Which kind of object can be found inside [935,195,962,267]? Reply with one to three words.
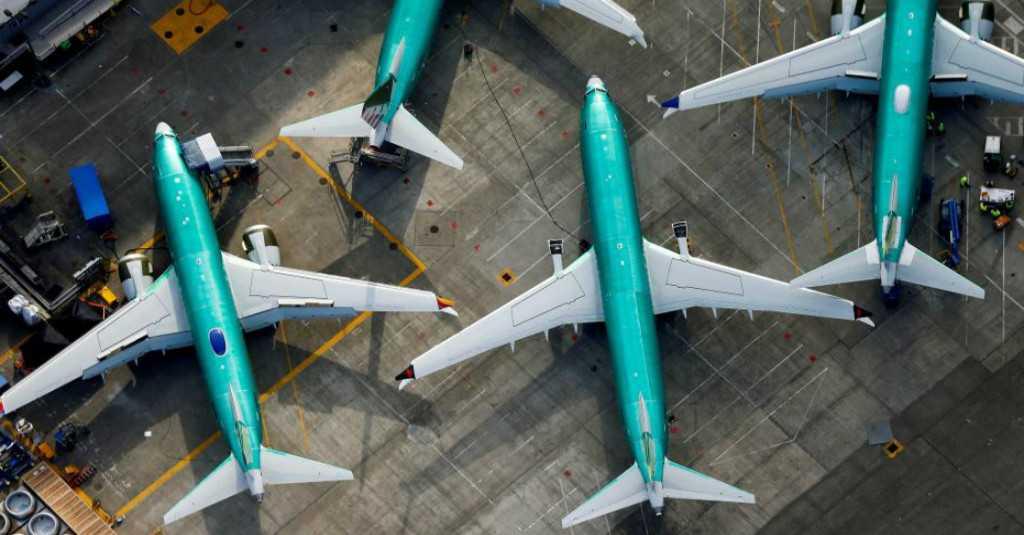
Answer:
work vehicle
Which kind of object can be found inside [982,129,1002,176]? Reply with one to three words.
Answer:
vehicle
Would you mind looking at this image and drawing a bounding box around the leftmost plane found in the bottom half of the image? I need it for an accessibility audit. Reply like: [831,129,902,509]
[0,121,459,528]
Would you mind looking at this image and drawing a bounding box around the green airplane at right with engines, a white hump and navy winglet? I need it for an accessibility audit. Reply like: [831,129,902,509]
[664,0,1024,301]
